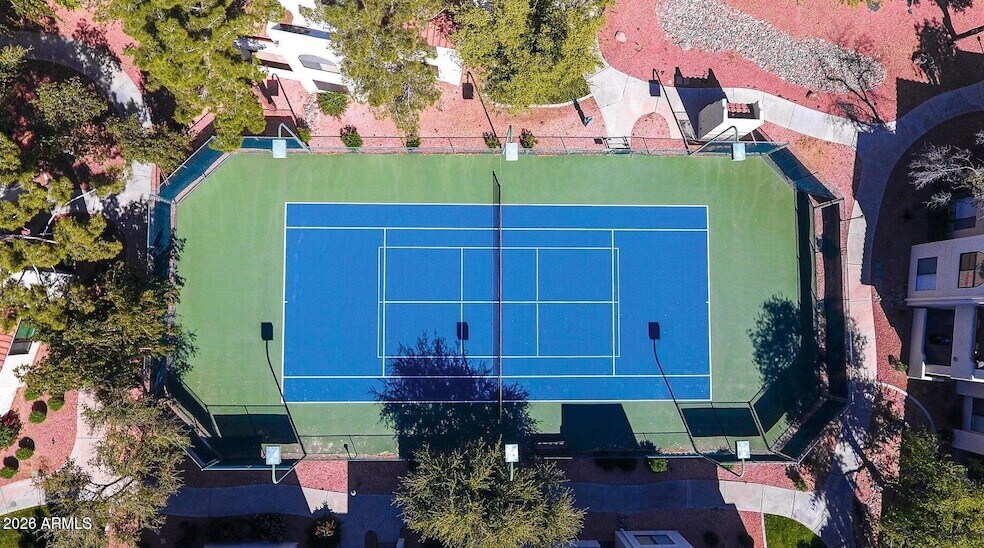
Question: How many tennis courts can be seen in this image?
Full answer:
There is 1 tennis court in the image.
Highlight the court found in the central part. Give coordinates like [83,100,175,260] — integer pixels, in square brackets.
[170,150,824,460]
